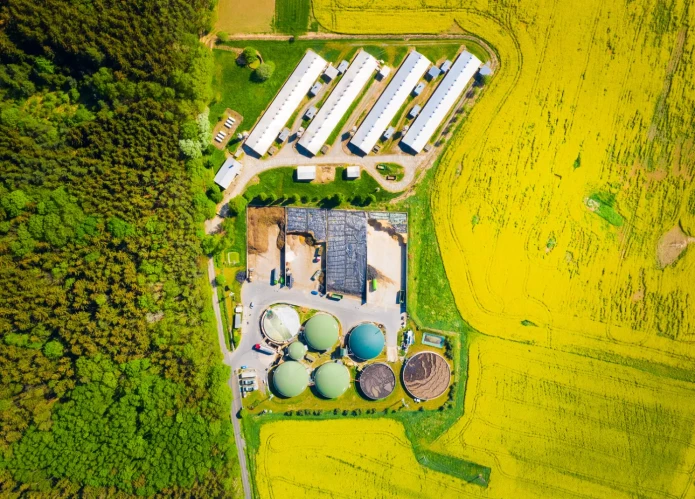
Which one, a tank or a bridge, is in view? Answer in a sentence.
I can see a tank in this picture.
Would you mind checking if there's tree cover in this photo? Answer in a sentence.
Yes, there's tree cover in this view.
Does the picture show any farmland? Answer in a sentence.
Yes, the picture does contain farmland.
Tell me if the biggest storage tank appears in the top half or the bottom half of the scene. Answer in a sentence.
The biggest storage tank is in the bottom half of the image.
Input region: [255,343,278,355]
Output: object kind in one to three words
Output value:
vehicle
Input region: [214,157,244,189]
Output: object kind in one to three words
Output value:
barn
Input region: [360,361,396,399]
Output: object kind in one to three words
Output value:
storage tank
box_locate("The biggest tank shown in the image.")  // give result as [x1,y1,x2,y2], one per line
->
[402,349,450,398]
